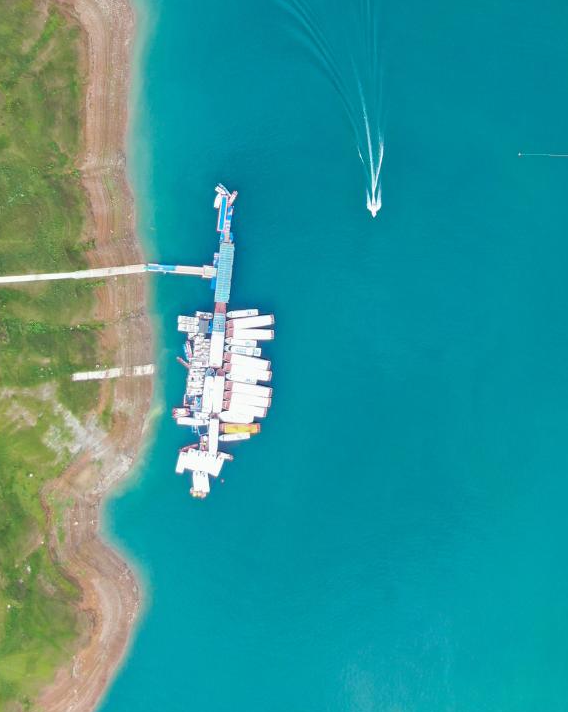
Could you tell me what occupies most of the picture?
water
